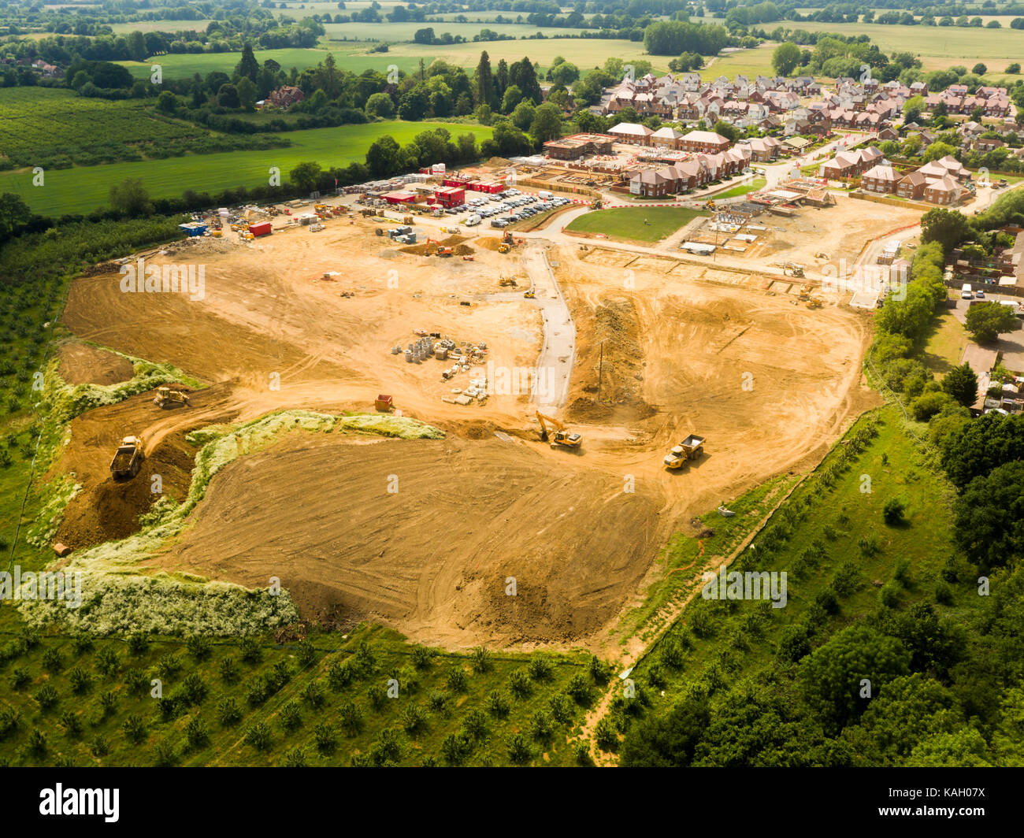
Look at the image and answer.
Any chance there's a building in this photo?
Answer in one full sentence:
Yes, there's a building here.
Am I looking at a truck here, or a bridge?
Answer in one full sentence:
Visible in the photo is a truck.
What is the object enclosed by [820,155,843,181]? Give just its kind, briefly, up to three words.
house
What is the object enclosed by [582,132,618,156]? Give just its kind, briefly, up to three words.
house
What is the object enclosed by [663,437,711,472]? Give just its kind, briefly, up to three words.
truck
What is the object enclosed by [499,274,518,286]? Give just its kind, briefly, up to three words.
vehicle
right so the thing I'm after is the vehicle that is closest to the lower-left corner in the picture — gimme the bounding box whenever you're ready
[108,444,142,486]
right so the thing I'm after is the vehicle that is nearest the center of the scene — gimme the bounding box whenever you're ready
[528,408,583,453]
